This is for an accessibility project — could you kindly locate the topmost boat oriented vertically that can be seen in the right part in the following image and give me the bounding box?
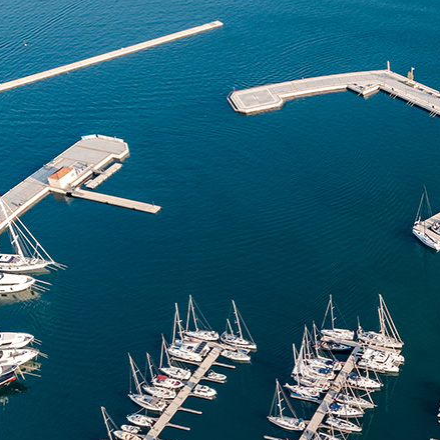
[408,187,440,249]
